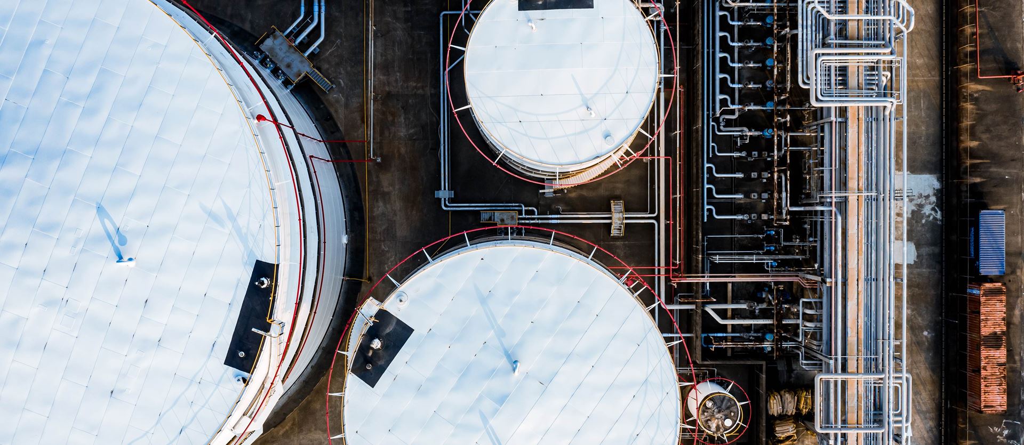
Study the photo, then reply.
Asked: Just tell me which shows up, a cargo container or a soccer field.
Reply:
cargo container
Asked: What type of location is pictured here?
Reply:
industrial area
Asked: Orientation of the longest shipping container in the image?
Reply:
from top to bottom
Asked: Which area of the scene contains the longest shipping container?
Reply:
bottom right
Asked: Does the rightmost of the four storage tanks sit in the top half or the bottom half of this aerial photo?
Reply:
bottom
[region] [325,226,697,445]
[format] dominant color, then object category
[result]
white storage tank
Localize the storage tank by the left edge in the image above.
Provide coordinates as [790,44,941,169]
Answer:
[0,0,370,445]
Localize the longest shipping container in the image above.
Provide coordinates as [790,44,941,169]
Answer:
[968,281,1007,413]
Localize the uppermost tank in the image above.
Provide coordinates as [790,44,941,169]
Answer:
[447,0,677,199]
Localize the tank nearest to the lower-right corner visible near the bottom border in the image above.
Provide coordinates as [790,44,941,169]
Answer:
[682,376,752,445]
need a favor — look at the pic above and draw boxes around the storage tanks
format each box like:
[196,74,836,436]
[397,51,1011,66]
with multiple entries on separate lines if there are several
[325,226,697,445]
[682,376,752,445]
[447,0,677,199]
[0,0,370,445]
